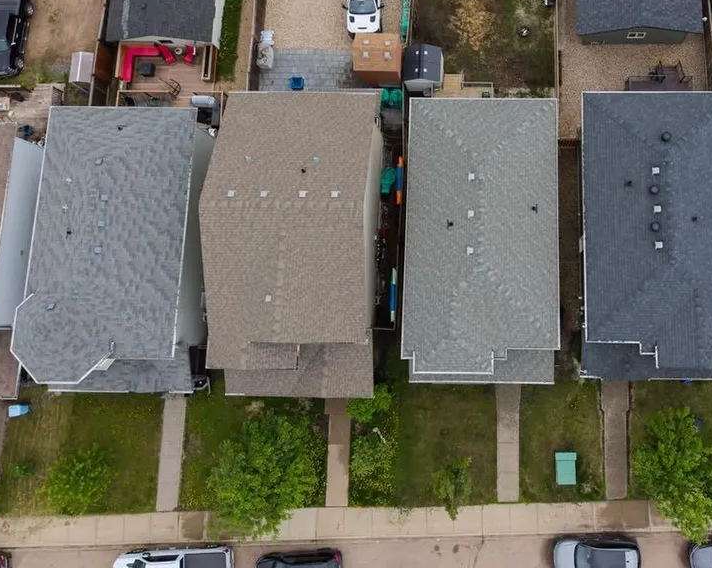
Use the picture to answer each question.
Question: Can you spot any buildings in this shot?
Yes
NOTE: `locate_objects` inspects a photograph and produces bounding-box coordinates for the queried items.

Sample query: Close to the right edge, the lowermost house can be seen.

[577,90,712,382]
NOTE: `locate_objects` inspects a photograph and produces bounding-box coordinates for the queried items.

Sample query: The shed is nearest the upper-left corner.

[69,55,95,88]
